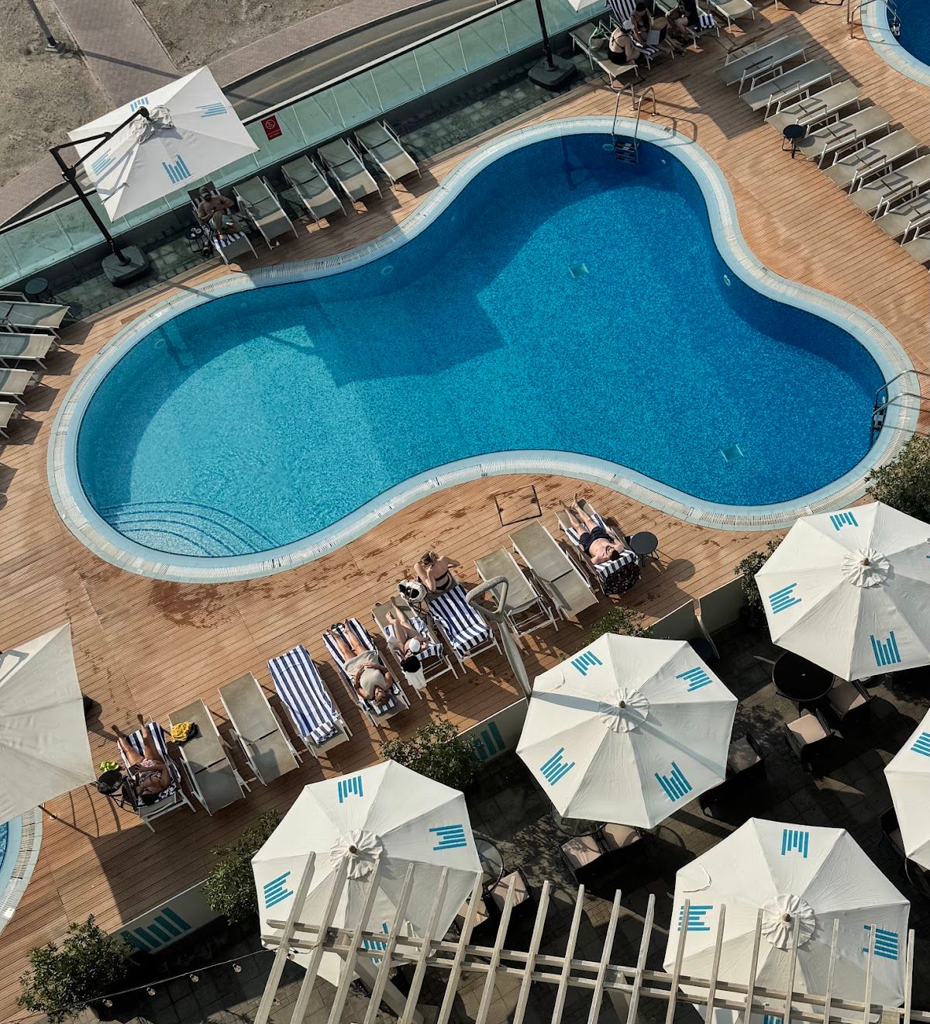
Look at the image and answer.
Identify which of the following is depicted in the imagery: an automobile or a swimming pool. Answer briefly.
swimming pool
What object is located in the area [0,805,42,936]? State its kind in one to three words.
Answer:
swimming pool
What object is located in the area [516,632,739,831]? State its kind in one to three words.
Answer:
umbrella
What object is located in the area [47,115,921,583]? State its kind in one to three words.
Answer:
swimming pool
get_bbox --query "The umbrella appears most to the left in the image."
[0,624,94,820]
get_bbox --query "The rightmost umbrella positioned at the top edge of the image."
[527,0,618,85]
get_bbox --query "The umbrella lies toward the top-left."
[56,70,264,278]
